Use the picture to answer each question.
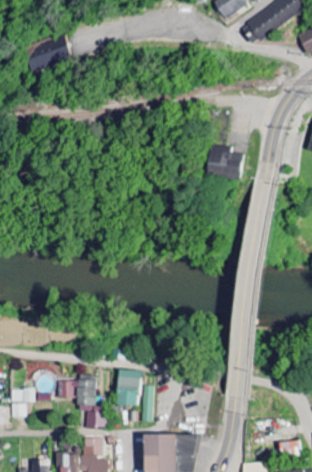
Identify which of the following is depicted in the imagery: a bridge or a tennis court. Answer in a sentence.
It is a bridge that can be seen here.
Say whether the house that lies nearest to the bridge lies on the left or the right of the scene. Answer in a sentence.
The house that lies nearest to the bridge sits on the right side.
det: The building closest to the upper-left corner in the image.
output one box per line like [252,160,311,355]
[28,36,73,70]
